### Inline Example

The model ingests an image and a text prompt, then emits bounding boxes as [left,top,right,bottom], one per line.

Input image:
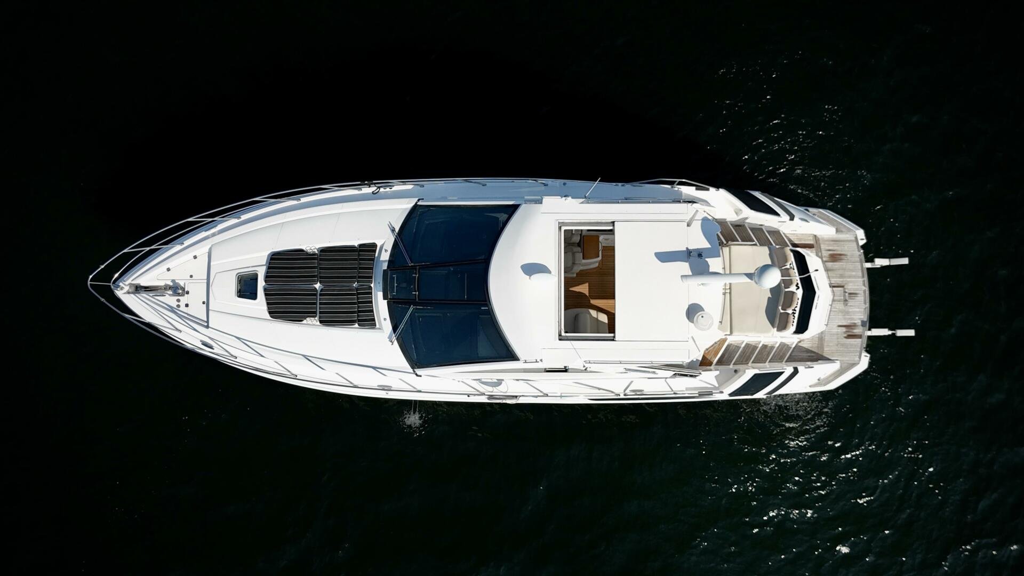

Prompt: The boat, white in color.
[87,177,914,404]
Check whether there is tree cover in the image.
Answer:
No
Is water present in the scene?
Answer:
Yes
